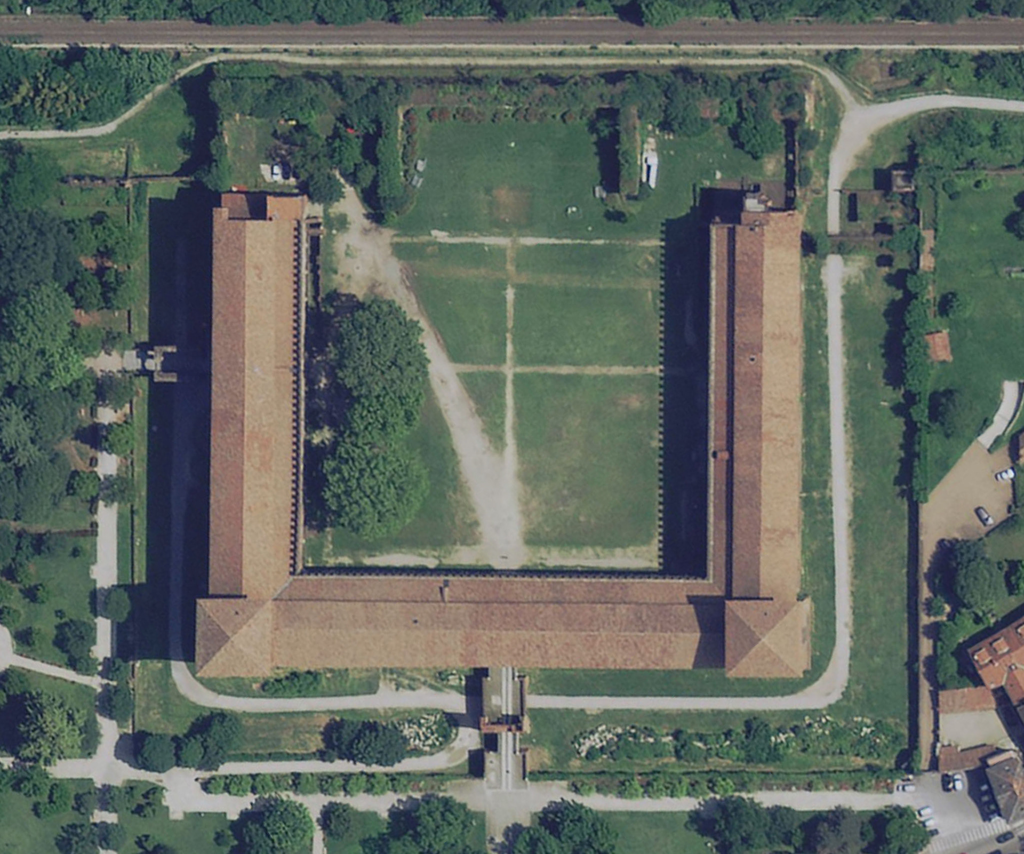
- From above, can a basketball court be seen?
No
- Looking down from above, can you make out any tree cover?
Yes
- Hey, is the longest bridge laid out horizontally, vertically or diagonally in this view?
vertically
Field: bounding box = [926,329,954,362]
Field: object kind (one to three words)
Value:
house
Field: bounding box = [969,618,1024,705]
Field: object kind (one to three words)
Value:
house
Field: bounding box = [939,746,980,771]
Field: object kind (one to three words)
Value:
shed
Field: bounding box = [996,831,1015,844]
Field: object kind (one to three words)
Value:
vehicle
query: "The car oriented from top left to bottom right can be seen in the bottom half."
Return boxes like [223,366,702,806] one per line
[977,507,992,526]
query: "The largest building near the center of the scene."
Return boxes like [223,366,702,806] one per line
[197,184,811,677]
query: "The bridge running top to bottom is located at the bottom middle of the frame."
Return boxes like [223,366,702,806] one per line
[482,668,527,790]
